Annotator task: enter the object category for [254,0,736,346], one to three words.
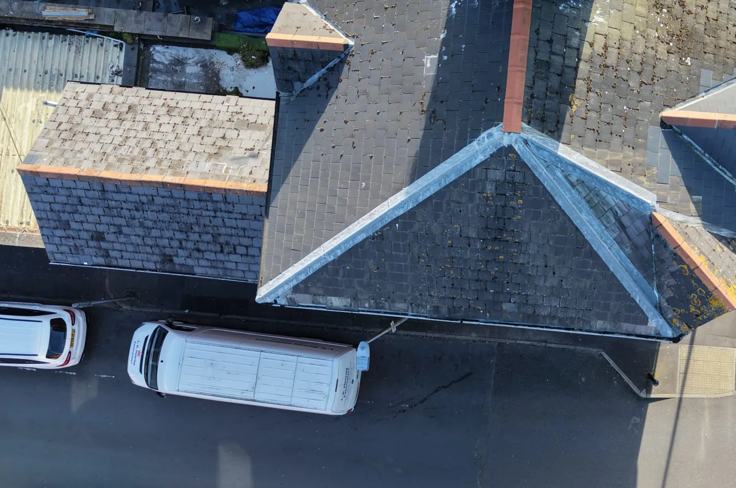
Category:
house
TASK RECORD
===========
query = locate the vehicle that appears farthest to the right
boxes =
[126,311,362,419]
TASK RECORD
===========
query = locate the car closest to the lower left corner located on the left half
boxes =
[0,293,89,368]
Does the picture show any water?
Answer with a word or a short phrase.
No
